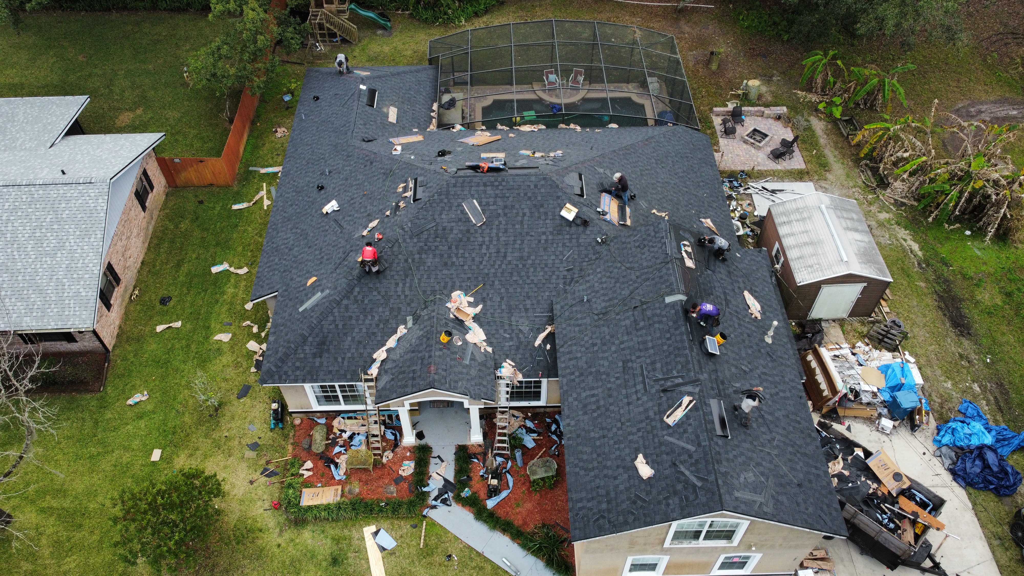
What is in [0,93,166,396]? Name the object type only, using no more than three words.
house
